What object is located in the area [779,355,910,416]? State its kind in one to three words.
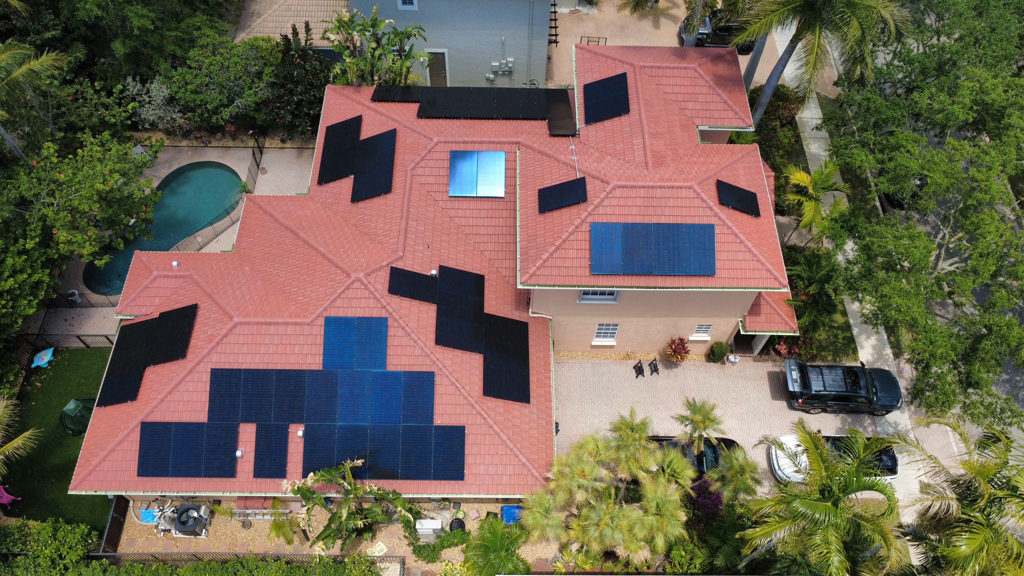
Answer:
car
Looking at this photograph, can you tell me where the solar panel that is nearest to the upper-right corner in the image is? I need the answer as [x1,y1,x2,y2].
[718,178,762,216]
